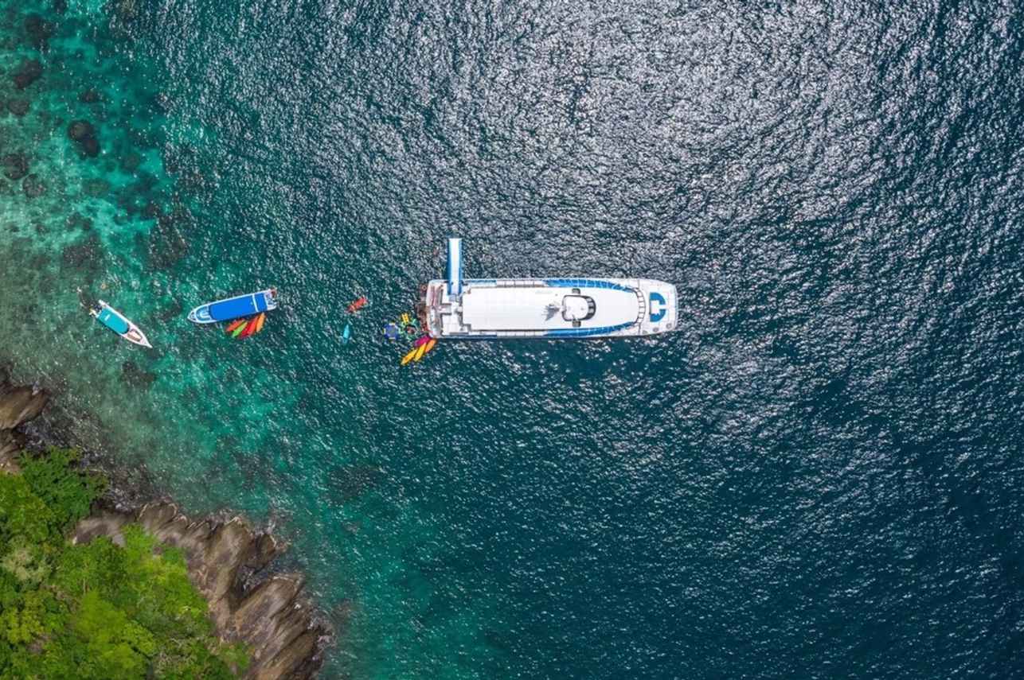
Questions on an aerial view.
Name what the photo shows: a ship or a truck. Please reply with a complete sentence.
I can see a ship in this picture.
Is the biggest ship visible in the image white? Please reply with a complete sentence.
Yes, the biggest ship appears white.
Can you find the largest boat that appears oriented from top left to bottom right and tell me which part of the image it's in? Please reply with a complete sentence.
The largest boat that appears oriented from top left to bottom right is located in the left region of the scene.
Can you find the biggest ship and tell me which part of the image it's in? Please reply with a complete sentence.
The biggest ship is located in the center region of the scene.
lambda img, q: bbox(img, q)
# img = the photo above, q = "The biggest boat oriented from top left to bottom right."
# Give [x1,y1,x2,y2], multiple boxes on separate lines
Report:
[91,297,155,349]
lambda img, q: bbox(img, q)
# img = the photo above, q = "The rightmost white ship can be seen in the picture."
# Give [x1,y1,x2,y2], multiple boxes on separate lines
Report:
[418,278,679,338]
